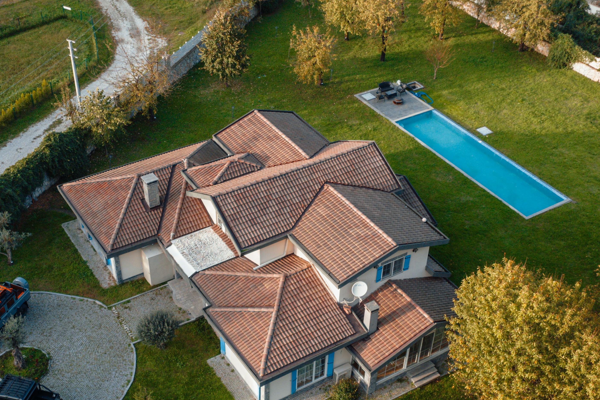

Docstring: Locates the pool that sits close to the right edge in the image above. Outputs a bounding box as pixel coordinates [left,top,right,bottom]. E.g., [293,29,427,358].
[394,109,575,219]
